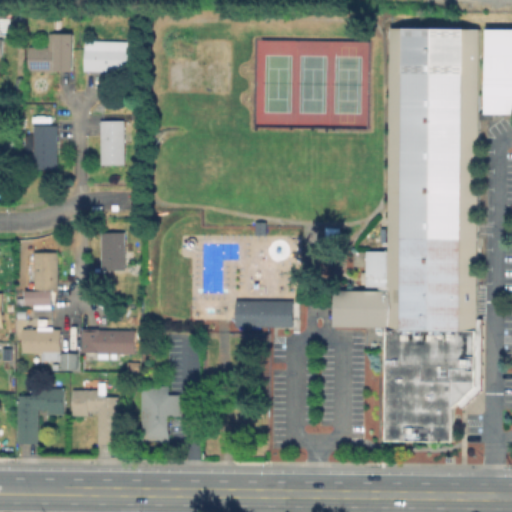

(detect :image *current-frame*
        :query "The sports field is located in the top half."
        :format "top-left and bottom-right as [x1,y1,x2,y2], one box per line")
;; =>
[160,99,382,219]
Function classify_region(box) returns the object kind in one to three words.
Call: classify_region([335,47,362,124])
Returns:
tennis court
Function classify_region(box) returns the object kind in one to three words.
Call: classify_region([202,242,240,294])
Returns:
swimming pool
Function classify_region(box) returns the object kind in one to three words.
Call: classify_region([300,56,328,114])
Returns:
tennis court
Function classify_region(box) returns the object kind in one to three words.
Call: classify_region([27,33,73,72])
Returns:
house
